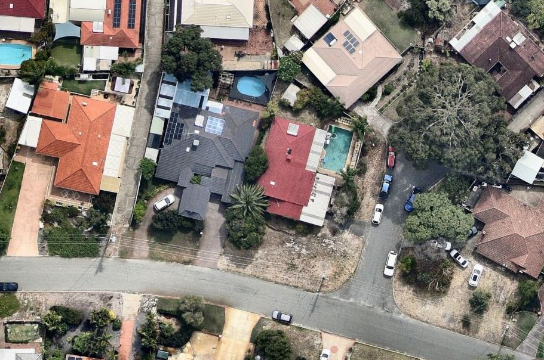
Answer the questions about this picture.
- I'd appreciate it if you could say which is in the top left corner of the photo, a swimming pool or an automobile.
swimming pool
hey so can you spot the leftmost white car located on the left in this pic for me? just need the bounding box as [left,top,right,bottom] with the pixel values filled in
[151,193,176,211]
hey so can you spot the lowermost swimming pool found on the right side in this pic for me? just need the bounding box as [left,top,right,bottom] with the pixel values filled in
[321,124,355,172]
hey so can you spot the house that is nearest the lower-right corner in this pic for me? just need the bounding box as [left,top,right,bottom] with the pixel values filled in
[472,183,544,275]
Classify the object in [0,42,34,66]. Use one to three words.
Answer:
swimming pool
